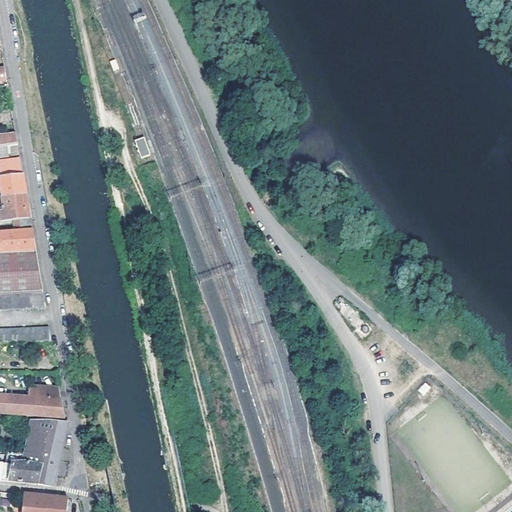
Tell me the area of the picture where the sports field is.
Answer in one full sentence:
Look in the bottom right portion of the view to spot the sports field.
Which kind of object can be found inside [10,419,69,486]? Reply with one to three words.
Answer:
building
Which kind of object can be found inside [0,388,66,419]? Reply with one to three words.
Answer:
house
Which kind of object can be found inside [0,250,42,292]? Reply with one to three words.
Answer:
building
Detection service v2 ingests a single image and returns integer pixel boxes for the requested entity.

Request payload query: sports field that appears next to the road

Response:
[396,396,511,512]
